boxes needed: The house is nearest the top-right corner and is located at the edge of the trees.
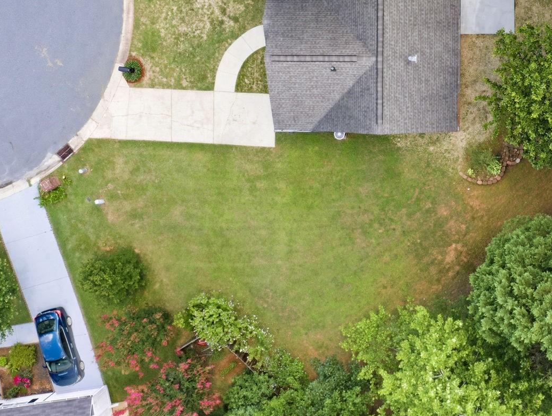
[263,0,462,134]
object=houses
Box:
[263,0,462,134]
[0,380,116,416]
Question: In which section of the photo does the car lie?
bottom left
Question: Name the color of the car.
blue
